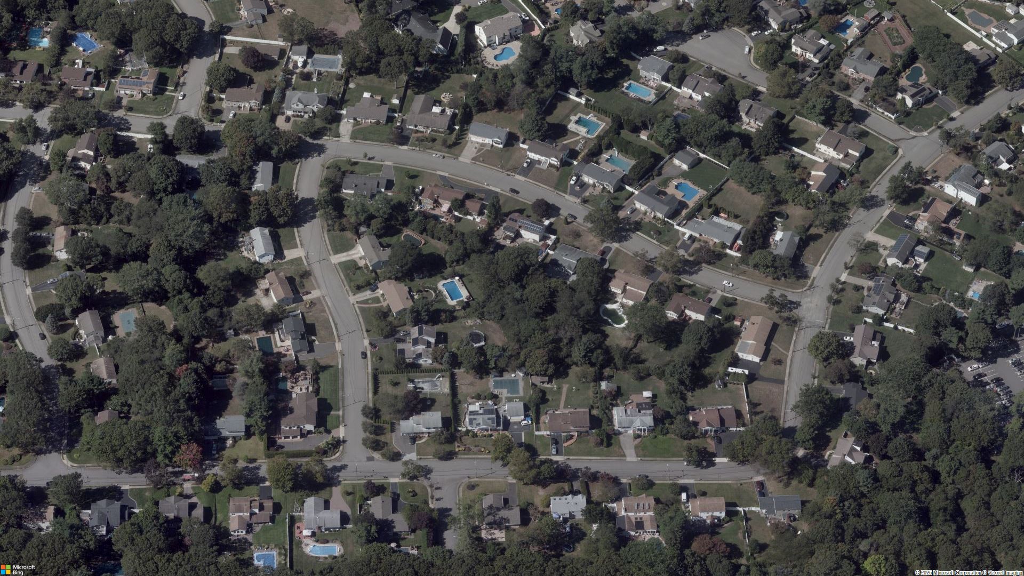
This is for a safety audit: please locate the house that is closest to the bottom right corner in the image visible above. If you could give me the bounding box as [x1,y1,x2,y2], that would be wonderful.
[828,437,863,475]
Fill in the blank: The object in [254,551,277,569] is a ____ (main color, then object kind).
blue swimming pool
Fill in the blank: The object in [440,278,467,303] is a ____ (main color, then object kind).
blue swimming pool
